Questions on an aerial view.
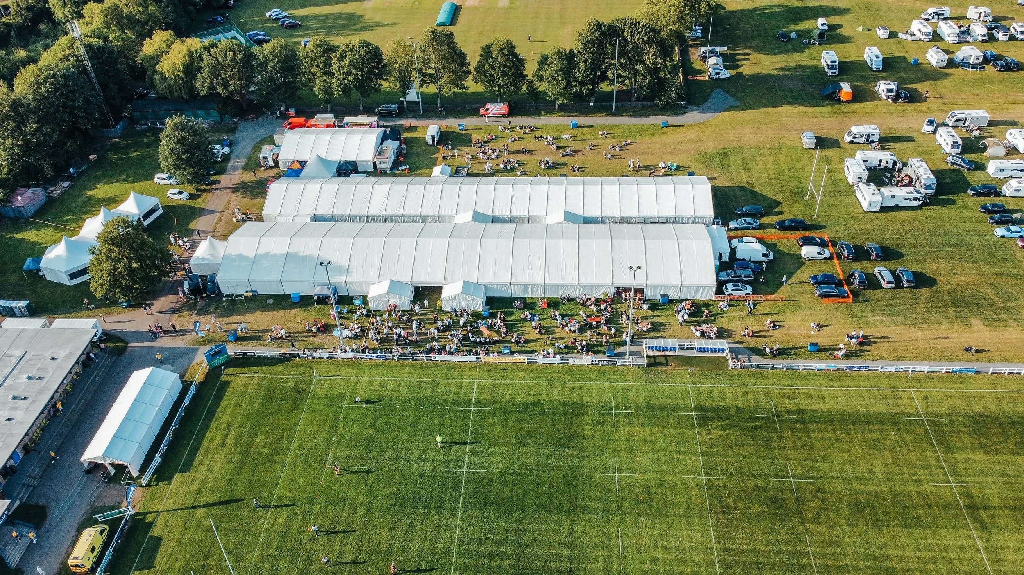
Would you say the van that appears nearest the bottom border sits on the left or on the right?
left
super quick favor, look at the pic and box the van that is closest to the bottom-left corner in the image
[64,527,110,575]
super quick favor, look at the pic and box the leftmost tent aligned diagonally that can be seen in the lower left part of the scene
[80,365,189,477]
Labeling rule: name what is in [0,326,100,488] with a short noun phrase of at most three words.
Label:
building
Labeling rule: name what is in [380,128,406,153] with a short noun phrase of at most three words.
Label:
gazebo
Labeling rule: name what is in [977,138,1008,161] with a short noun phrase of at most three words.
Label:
tent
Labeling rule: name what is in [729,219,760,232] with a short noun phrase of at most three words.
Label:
vehicle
